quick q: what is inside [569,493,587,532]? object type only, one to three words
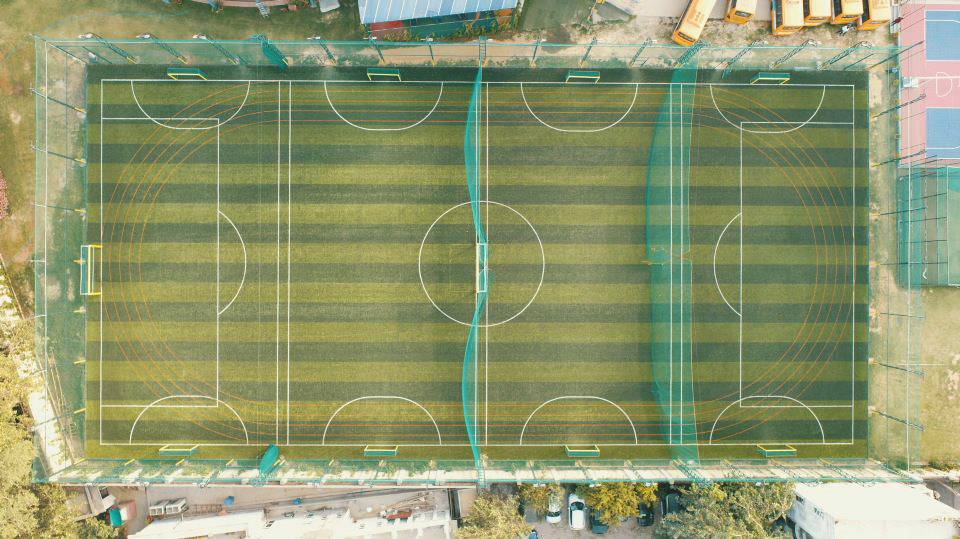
car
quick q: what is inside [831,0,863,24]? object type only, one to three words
bus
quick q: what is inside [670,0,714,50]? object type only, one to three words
bus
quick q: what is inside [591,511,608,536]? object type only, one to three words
car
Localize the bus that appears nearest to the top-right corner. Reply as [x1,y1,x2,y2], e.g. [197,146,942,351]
[857,0,891,31]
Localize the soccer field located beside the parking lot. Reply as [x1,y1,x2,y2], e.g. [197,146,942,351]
[85,64,869,458]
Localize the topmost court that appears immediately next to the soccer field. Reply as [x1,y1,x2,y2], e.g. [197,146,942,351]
[900,0,960,164]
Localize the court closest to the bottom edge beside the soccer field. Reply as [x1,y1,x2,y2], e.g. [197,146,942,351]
[899,167,960,286]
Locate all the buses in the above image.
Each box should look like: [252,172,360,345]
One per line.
[801,0,831,27]
[772,0,803,37]
[831,0,863,24]
[670,0,714,50]
[857,0,891,31]
[727,0,758,25]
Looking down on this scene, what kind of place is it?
sports ground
